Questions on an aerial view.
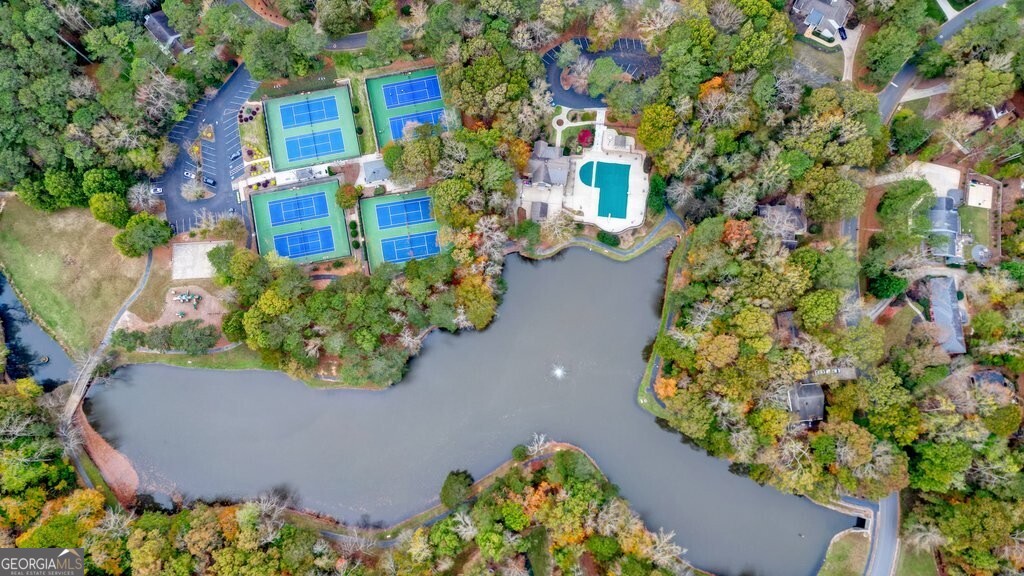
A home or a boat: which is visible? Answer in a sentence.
Visible in the photo is a home.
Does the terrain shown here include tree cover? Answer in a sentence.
Yes, the picture does contain tree cover.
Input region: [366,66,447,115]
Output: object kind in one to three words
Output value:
tennis court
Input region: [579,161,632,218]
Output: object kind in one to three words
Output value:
swimming pool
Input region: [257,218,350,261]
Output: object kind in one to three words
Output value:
tennis court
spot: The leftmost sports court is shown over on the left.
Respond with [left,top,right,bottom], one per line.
[171,240,233,280]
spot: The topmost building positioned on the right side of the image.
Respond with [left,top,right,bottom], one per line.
[788,0,854,39]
